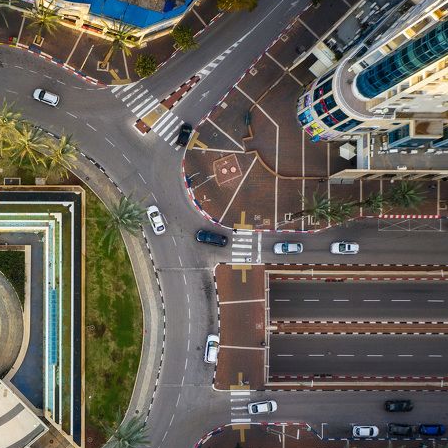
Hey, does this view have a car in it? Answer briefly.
Yes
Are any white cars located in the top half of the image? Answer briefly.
Yes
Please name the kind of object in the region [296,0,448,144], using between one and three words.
building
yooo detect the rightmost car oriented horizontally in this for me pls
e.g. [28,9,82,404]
[421,425,447,437]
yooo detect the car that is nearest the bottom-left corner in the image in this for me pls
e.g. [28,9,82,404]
[206,336,222,362]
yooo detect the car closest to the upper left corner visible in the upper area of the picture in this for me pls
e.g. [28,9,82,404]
[31,86,62,106]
